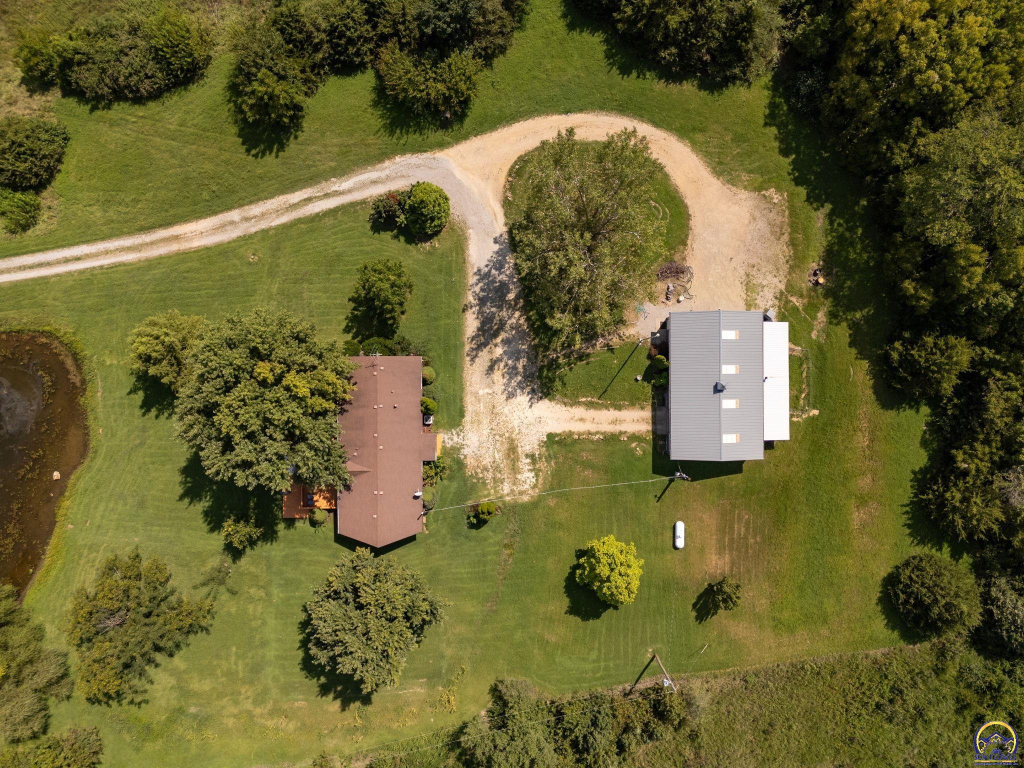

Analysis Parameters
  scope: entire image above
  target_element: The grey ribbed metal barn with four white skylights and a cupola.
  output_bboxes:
[666,308,765,461]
